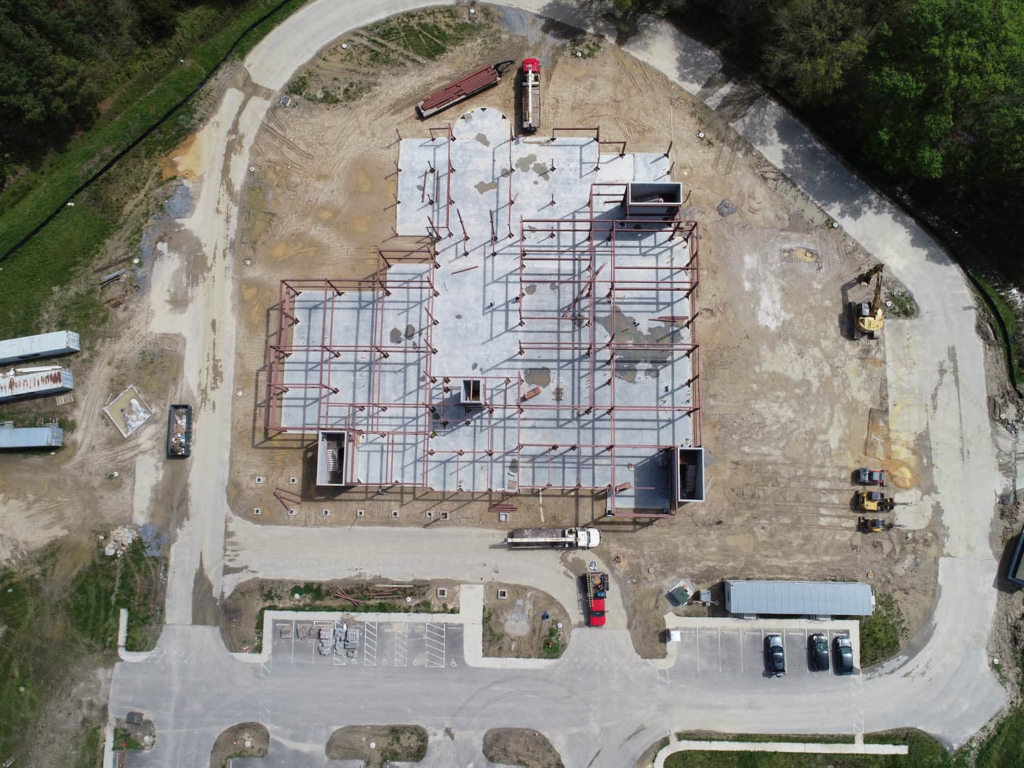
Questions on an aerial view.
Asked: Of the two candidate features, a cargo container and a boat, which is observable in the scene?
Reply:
cargo container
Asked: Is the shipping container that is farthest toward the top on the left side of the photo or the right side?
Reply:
left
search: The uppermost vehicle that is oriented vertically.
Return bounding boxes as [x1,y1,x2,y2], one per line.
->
[521,62,544,131]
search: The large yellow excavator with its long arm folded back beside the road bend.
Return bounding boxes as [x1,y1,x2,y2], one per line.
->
[854,263,886,340]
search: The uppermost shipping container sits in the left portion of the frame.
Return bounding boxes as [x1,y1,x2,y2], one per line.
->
[0,331,80,362]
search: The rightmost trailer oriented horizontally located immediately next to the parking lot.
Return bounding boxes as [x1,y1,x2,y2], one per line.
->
[725,580,873,615]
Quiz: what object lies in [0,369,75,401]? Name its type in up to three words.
shipping container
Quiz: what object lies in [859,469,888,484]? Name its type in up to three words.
work vehicle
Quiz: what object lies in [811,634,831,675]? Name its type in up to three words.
car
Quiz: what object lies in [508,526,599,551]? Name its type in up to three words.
truck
